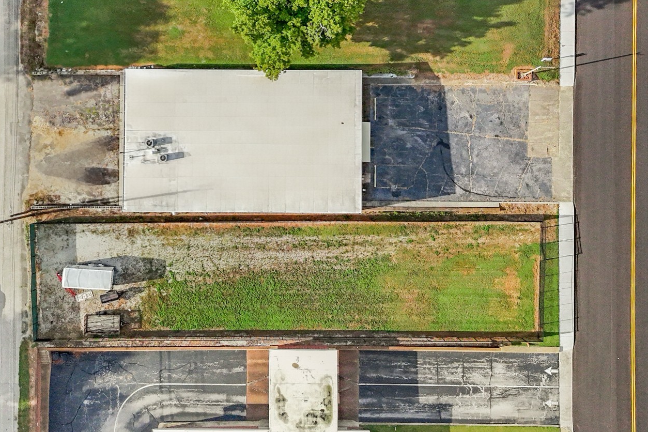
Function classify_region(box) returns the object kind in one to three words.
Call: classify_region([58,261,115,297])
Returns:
trailer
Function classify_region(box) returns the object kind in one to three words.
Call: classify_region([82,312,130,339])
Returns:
trailer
